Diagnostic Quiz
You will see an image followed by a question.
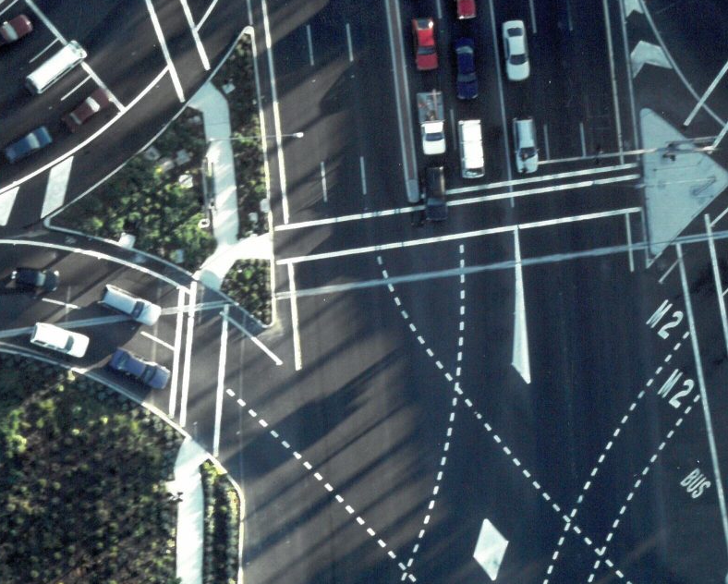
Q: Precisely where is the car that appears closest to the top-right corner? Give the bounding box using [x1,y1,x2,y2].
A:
[502,20,530,81]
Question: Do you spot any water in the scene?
No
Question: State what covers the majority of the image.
paved ground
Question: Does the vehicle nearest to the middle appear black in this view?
Yes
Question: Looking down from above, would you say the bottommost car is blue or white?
blue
